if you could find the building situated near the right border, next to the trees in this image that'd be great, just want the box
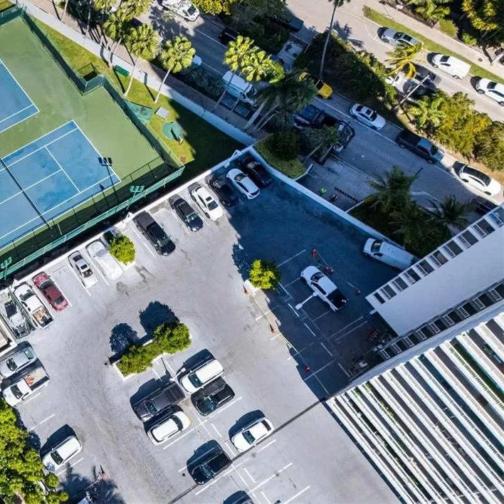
[328,189,504,504]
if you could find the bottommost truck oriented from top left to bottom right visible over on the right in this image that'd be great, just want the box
[298,264,353,313]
